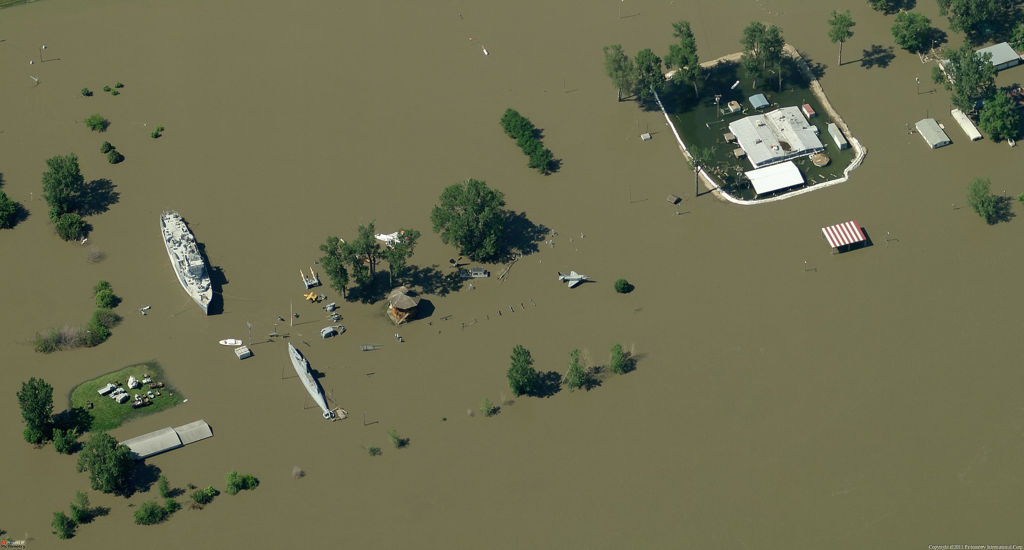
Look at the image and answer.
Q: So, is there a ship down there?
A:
Yes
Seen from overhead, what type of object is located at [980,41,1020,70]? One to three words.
building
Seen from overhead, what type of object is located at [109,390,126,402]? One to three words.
vehicle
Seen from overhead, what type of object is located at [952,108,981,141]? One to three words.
house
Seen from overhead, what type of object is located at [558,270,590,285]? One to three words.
airplane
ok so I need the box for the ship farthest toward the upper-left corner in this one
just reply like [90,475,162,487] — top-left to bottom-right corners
[162,211,210,313]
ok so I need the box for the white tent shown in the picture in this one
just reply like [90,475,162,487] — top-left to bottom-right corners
[745,161,804,196]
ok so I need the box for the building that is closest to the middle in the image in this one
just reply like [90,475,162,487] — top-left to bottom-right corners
[387,286,420,320]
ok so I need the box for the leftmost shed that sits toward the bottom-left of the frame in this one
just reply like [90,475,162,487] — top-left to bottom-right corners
[123,427,182,464]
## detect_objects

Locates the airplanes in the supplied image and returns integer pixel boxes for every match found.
[304,292,318,302]
[558,270,590,285]
[375,228,410,244]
